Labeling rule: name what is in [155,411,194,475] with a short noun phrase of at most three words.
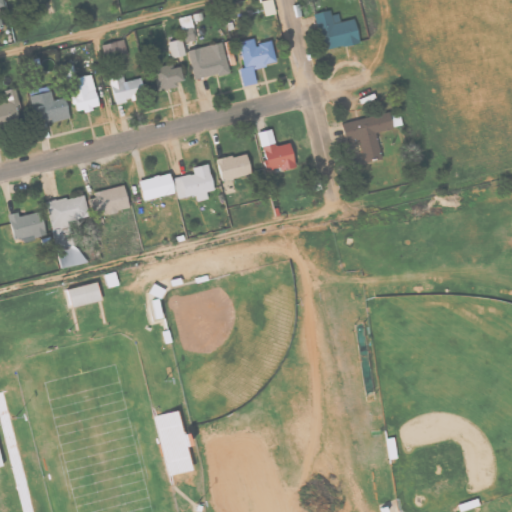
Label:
building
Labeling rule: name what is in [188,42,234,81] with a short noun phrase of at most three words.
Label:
house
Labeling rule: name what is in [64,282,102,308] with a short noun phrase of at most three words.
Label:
building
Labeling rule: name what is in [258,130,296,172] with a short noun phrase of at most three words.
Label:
house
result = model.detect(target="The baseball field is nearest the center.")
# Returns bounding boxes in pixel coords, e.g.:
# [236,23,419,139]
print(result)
[164,258,297,424]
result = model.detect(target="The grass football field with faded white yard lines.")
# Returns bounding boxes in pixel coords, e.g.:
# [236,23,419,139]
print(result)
[45,365,154,512]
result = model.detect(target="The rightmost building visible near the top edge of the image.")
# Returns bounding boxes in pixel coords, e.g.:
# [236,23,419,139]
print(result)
[315,11,362,49]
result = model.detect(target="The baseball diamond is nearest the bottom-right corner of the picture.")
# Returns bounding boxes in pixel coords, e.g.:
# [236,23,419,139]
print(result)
[368,294,512,512]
